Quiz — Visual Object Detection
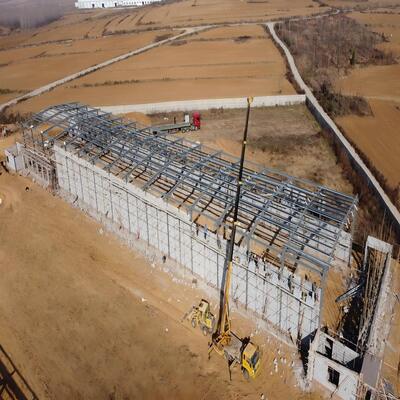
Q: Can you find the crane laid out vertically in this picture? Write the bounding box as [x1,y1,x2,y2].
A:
[202,99,264,377]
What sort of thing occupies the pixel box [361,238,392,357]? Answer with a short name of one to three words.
building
